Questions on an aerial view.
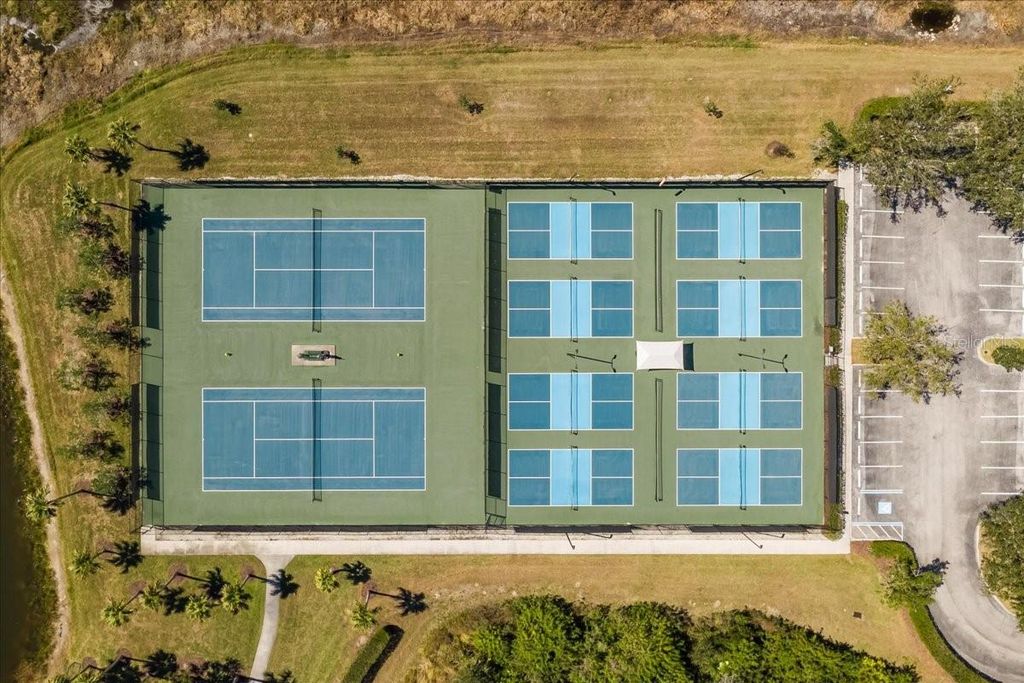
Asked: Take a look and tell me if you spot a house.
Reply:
No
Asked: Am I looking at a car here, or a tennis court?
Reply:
tennis court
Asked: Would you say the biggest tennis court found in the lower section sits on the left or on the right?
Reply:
left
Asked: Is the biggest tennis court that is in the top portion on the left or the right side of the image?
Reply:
left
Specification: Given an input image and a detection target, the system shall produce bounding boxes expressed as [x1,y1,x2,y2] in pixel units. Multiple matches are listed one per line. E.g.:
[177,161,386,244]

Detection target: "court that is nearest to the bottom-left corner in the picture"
[202,388,426,491]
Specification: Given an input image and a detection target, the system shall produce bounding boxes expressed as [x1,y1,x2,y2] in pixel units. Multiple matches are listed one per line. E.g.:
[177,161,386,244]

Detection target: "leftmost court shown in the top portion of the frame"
[202,218,426,321]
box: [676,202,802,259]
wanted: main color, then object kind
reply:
blue sports court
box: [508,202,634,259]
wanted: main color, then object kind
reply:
blue sports court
